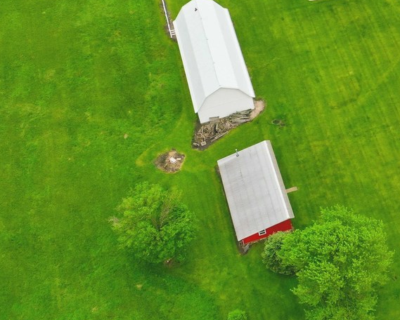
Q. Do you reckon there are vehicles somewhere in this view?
No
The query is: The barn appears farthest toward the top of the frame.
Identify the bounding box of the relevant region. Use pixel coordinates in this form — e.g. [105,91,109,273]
[173,0,256,123]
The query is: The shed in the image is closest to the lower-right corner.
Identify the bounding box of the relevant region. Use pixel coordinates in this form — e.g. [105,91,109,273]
[218,141,294,244]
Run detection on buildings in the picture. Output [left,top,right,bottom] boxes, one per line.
[173,0,256,123]
[218,141,294,244]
